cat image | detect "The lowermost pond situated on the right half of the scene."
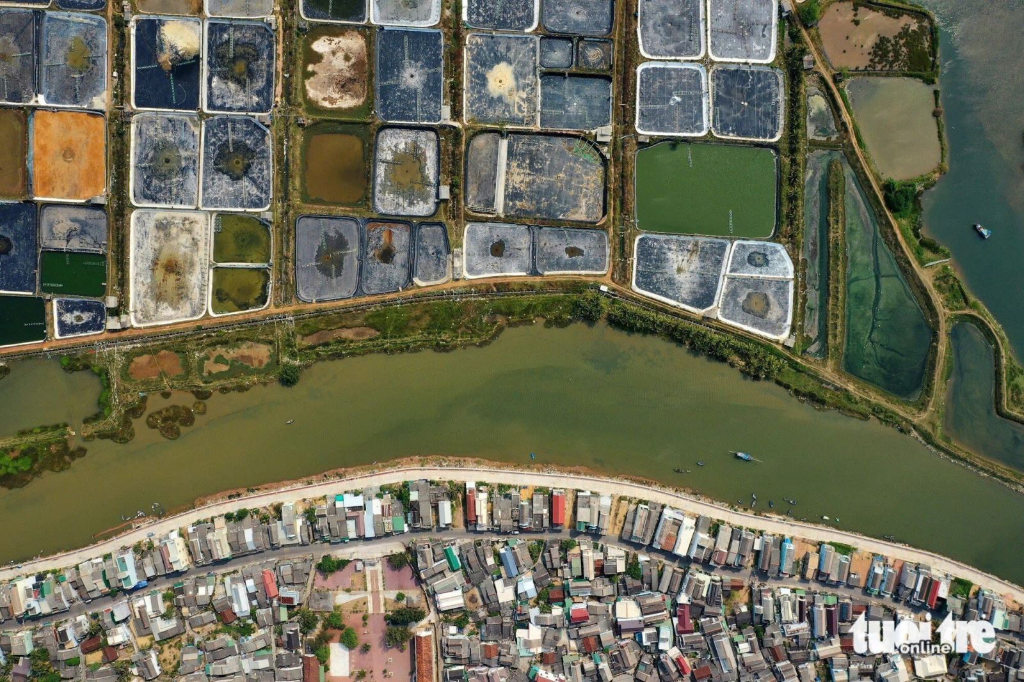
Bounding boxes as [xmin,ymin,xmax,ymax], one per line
[942,324,1024,474]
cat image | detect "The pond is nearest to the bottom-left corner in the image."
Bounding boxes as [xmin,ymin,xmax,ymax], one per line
[0,358,100,439]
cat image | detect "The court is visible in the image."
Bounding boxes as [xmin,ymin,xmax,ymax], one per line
[330,643,349,677]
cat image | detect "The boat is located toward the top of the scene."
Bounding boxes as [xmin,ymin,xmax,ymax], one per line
[975,224,991,238]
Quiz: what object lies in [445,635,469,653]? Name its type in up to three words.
house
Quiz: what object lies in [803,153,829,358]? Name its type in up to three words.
pond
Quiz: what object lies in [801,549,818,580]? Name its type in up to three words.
house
